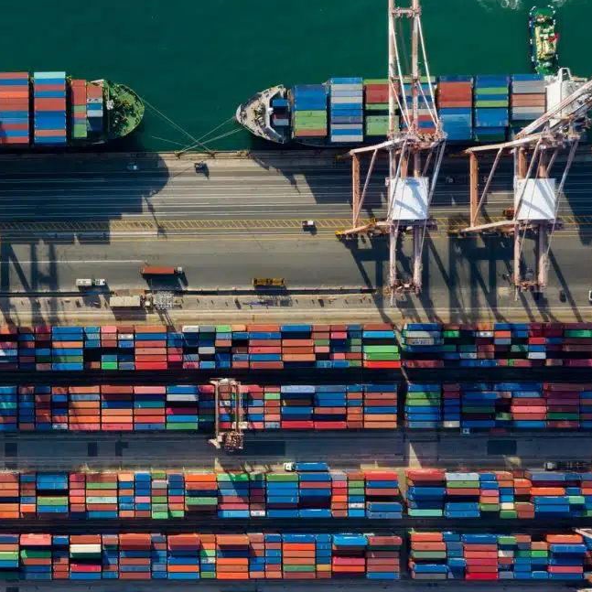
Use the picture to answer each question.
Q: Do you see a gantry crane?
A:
Yes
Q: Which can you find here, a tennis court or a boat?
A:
boat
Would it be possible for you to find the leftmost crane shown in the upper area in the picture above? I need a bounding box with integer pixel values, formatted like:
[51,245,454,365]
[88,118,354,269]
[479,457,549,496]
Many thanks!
[326,0,453,301]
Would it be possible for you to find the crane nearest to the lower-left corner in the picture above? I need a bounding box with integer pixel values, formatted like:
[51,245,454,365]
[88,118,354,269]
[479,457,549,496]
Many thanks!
[204,374,248,453]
